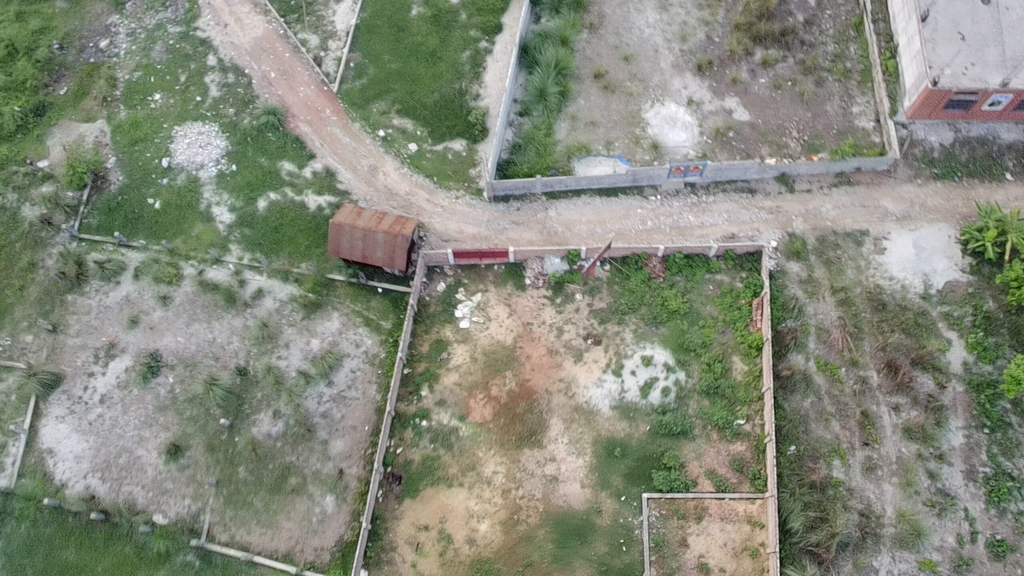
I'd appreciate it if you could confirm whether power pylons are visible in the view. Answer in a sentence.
No, there's no power pylon here.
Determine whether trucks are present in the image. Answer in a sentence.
No, there isn't any truck down there.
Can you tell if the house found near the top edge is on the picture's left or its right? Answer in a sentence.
It is on the right.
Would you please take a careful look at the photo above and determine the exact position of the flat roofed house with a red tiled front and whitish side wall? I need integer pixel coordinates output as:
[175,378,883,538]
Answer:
[879,0,1024,126]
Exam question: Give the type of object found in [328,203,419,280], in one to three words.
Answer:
shed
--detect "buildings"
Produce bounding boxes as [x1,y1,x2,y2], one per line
[879,0,1024,126]
[328,203,419,280]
